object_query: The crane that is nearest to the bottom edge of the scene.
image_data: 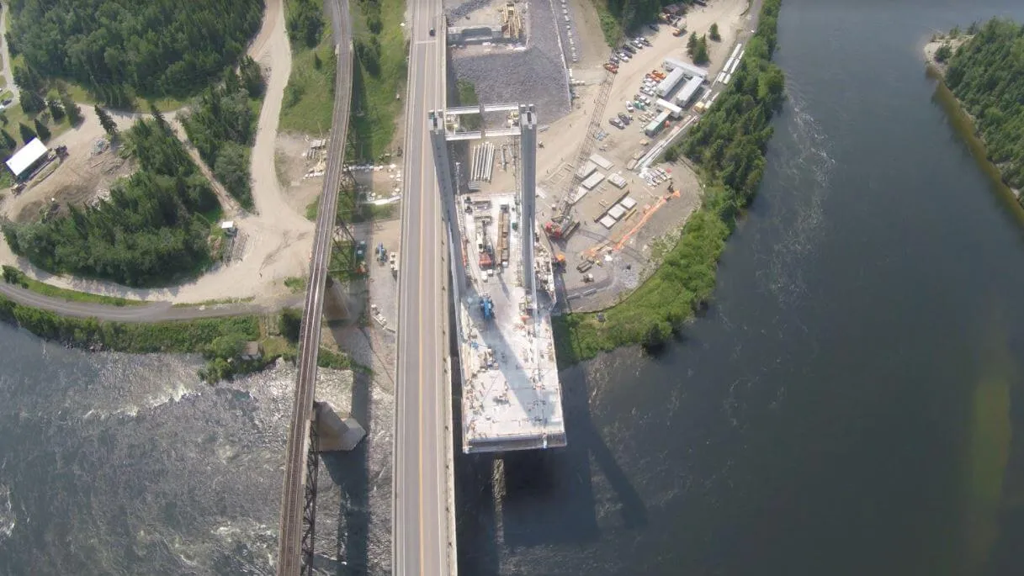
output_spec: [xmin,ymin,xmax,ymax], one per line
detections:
[466,204,497,255]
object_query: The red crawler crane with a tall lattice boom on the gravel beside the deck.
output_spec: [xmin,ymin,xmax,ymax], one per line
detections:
[548,64,616,237]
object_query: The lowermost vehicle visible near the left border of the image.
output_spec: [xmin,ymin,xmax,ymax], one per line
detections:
[4,178,25,197]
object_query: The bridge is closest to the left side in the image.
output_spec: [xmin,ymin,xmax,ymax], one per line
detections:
[276,44,368,576]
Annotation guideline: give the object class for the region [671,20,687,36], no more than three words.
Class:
vehicle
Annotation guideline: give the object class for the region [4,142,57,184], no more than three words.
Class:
barn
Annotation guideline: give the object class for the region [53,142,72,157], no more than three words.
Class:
work vehicle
